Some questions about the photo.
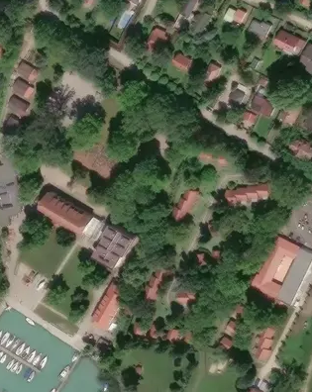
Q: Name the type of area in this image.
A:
residential area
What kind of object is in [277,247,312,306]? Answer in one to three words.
building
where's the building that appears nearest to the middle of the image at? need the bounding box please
[174,188,201,220]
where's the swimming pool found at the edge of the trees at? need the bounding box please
[118,10,135,29]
